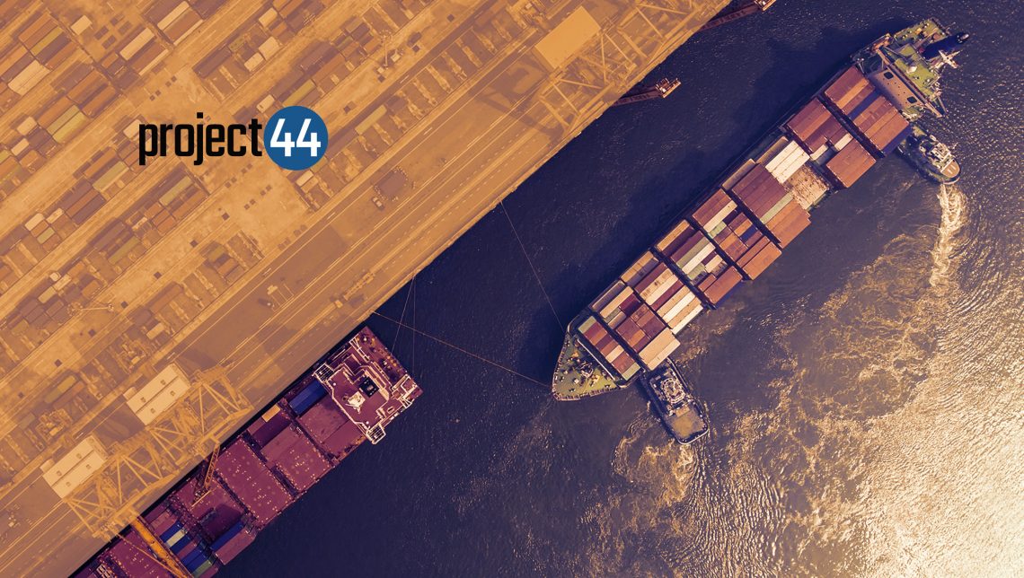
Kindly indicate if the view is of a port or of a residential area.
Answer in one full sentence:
This looks like a port.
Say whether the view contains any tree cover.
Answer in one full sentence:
No, tree cover can't be seen anywhere here.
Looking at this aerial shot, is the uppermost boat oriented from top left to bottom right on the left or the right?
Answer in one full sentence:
The uppermost boat oriented from top left to bottom right appears in the right half of the scene.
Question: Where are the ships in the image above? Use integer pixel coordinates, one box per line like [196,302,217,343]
[77,326,424,578]
[545,15,982,399]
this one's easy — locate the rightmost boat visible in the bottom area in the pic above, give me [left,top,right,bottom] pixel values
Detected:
[644,361,713,449]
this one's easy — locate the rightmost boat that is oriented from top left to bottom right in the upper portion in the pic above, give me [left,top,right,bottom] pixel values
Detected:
[888,126,961,192]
